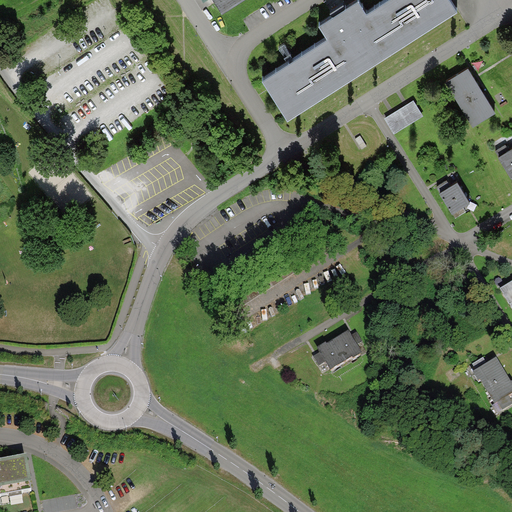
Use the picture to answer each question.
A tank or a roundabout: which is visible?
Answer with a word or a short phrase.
roundabout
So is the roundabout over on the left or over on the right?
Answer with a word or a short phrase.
left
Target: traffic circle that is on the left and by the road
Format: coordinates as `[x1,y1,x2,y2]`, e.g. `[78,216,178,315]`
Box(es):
[74,354,150,430]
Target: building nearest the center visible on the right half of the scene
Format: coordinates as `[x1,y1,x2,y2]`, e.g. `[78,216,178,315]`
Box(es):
[312,329,366,374]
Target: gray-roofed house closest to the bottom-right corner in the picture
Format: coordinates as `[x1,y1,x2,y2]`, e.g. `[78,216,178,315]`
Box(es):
[477,358,512,422]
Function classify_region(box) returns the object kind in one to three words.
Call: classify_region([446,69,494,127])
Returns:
house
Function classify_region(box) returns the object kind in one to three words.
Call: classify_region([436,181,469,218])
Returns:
house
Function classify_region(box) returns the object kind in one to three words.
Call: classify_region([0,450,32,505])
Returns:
building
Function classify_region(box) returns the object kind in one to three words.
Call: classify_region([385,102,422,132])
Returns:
building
